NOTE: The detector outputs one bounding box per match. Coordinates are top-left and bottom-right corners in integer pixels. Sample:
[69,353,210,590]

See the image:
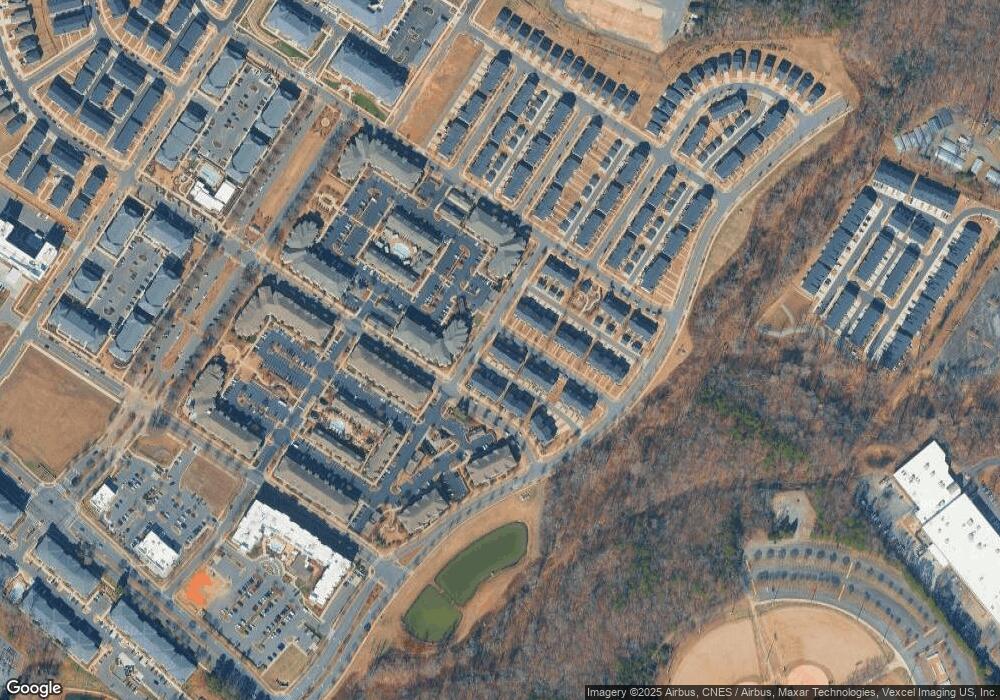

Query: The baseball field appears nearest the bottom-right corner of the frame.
[757,603,910,700]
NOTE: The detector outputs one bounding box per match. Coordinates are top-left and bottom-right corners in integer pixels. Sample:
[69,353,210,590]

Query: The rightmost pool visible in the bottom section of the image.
[324,417,349,436]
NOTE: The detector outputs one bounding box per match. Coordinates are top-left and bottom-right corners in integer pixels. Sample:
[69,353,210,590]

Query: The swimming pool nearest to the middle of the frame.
[385,235,413,259]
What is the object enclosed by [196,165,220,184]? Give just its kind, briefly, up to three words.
swimming pool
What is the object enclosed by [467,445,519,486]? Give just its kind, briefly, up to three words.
building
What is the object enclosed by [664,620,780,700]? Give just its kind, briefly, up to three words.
baseball field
